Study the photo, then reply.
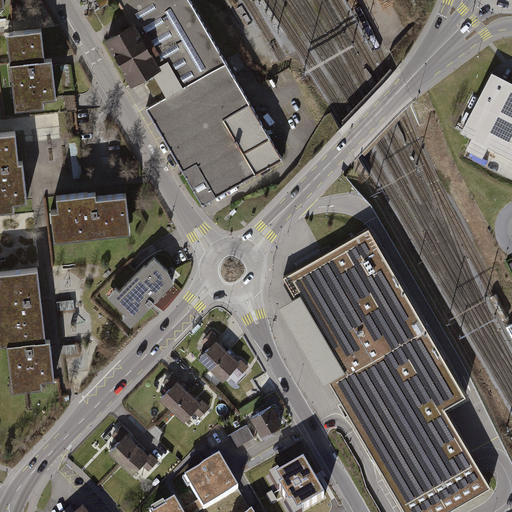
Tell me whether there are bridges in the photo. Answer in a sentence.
Yes, there is a bridge in the image.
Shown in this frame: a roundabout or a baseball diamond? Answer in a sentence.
Looking from above, you can make out a roundabout.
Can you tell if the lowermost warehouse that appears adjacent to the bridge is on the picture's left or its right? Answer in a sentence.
You can find the lowermost warehouse that appears adjacent to the bridge on the right side of the picture.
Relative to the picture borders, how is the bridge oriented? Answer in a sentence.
The bridge runs on a diagonal in the image.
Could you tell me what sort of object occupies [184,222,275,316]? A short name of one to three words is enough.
roundabout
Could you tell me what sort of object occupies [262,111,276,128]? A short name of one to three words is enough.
vehicle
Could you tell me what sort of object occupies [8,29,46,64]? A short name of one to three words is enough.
building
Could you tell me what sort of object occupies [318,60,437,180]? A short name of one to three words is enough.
bridge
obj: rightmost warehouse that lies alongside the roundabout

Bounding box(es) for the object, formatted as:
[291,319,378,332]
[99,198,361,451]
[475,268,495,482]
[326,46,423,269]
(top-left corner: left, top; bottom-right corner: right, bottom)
[284,230,489,512]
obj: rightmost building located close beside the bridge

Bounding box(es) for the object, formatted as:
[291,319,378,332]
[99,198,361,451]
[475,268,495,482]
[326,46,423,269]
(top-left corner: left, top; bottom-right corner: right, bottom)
[459,74,512,164]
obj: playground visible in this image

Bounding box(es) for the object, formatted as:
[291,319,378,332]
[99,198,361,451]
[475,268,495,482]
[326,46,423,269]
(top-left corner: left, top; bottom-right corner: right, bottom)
[53,265,96,392]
